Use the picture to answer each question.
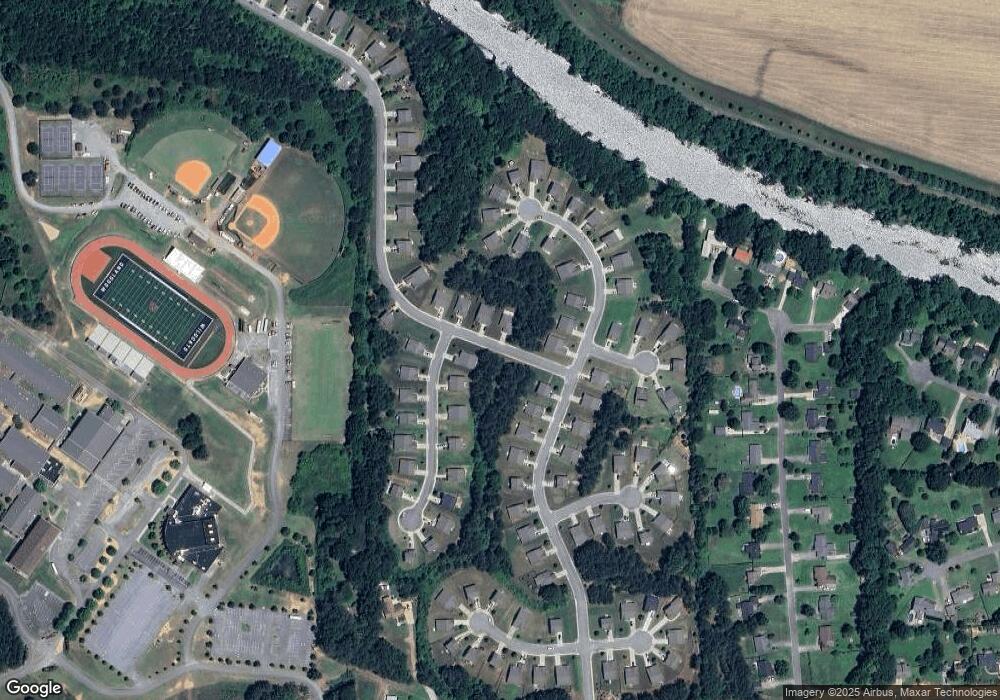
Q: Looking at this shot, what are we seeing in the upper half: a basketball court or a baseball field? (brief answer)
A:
baseball field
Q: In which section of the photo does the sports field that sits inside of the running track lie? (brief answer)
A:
left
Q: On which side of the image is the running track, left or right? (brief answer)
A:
left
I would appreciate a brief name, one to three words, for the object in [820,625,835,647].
house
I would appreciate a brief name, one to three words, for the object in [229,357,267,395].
building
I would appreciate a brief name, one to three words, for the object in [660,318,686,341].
house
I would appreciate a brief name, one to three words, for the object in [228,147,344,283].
baseball field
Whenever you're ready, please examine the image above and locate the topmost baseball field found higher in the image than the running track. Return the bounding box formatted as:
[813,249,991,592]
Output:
[128,111,240,195]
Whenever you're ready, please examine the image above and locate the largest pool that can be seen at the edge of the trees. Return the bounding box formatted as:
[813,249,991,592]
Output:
[953,432,970,455]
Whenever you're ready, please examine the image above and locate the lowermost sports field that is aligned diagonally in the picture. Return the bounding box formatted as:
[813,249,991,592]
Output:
[94,254,213,360]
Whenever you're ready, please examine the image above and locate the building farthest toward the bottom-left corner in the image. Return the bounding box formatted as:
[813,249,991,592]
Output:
[8,517,62,578]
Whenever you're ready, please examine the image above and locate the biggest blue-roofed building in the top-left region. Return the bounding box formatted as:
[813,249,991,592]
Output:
[257,138,282,167]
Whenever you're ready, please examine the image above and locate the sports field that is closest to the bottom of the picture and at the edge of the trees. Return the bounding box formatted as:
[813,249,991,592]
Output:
[291,318,350,441]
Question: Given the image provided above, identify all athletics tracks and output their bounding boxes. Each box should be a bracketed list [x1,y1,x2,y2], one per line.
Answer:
[71,236,235,379]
